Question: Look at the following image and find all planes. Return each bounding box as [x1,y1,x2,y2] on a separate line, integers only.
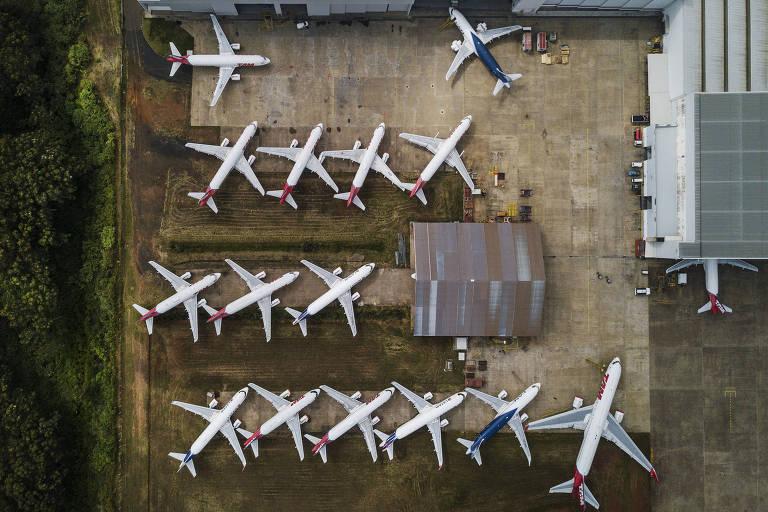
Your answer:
[170,387,250,475]
[184,121,265,213]
[133,261,220,342]
[399,115,476,205]
[202,259,299,342]
[163,13,271,106]
[529,358,658,508]
[446,7,523,94]
[374,382,468,468]
[237,383,321,461]
[305,385,395,463]
[285,260,376,337]
[665,259,759,315]
[255,124,339,210]
[320,123,405,210]
[458,383,543,463]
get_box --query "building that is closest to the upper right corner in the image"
[660,0,768,99]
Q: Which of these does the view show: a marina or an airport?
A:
airport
